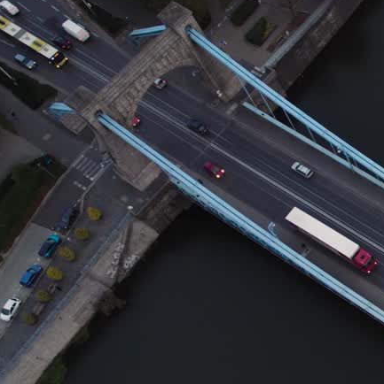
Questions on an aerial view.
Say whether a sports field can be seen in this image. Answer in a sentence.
No, this view has no sports field in it.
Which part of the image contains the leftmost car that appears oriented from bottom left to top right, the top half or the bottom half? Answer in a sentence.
The bottom half of the photo is where the leftmost car that appears oriented from bottom left to top right is.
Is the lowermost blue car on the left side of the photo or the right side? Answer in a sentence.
You can find the lowermost blue car on the left side of the picture.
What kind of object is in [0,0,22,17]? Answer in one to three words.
car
